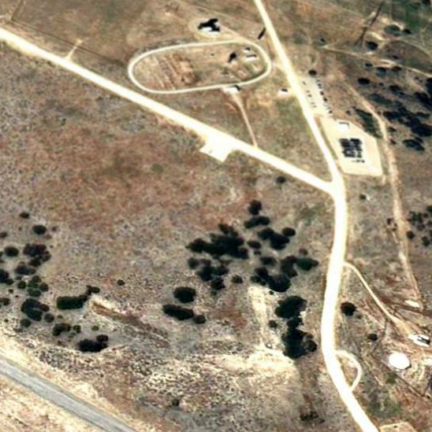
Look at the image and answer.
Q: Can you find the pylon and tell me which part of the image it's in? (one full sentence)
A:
The pylon appears toward the top right of the photo.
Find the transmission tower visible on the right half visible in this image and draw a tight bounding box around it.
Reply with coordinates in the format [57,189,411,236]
[359,9,381,48]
